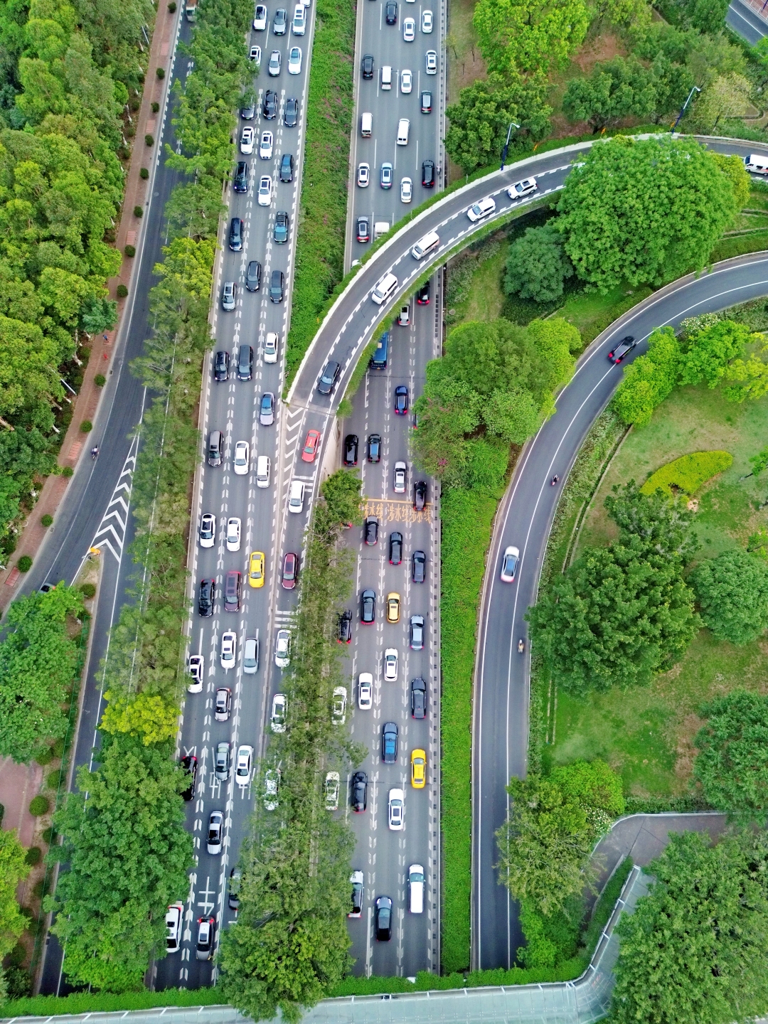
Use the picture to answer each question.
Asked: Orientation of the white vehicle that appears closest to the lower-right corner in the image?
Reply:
up and down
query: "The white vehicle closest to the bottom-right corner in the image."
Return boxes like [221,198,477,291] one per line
[406,861,427,916]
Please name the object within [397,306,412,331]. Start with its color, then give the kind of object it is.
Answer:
gray car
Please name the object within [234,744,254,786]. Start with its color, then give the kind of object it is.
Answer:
white car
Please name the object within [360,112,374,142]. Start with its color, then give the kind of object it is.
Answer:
white vehicle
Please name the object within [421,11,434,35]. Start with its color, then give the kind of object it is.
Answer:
white vehicle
